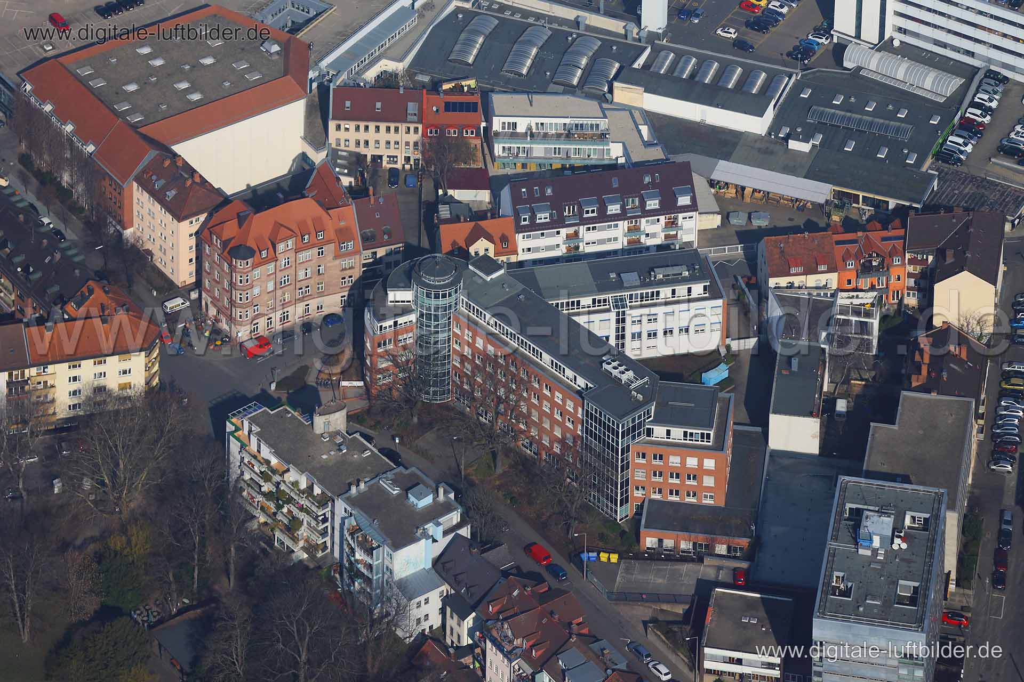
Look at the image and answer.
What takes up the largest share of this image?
buildings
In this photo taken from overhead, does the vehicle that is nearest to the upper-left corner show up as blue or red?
red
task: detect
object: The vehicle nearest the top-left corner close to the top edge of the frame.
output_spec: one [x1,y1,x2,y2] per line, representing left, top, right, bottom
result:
[47,8,71,32]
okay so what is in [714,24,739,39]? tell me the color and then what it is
white car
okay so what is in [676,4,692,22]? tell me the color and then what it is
blue car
